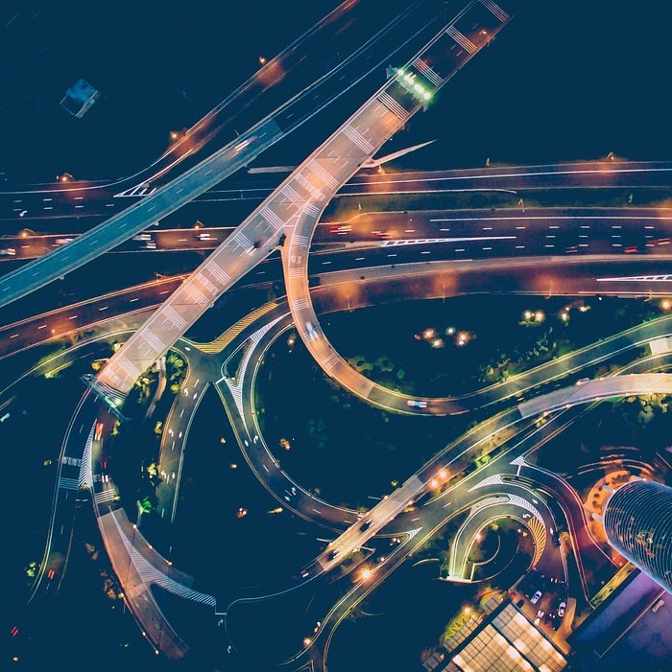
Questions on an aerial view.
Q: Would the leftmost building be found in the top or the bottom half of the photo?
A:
top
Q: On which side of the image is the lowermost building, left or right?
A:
right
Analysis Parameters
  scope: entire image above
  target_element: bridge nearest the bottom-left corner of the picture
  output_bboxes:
[94,501,217,672]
